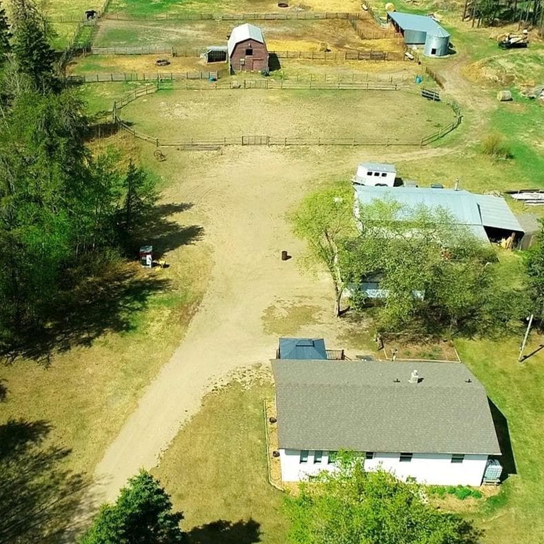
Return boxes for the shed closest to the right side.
[517,219,544,252]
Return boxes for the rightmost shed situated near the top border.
[383,10,446,44]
